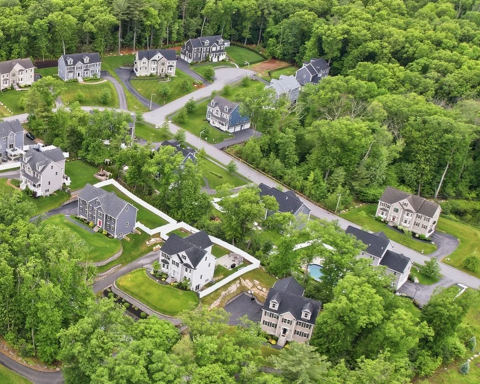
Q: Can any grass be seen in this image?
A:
Yes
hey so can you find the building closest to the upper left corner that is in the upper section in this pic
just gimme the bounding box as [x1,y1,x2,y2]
[0,56,35,92]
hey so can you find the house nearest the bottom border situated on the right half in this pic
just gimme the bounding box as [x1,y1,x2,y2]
[260,263,321,346]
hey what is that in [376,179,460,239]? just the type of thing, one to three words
house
